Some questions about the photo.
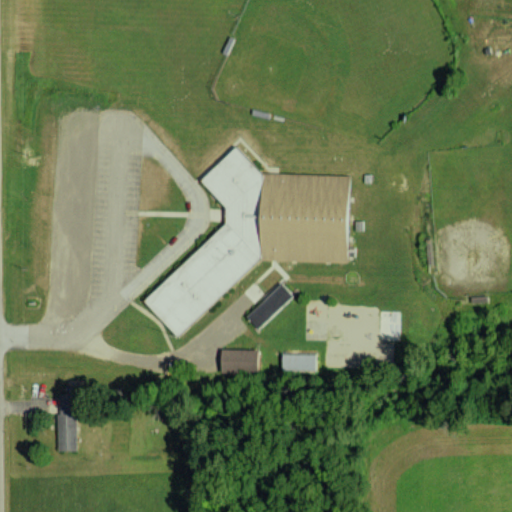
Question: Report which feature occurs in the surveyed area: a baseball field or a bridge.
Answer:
baseball field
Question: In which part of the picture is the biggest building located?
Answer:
center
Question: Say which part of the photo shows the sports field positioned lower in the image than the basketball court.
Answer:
bottom right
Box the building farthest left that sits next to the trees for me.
[58,413,78,452]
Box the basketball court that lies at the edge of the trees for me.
[380,311,402,363]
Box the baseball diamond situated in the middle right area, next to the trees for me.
[428,144,512,298]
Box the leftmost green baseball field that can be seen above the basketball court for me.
[214,0,452,139]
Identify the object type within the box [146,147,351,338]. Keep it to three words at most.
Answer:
building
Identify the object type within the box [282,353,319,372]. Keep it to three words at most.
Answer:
shed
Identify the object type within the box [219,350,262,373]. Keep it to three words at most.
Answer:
shed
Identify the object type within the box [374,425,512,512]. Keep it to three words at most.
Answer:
sports field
